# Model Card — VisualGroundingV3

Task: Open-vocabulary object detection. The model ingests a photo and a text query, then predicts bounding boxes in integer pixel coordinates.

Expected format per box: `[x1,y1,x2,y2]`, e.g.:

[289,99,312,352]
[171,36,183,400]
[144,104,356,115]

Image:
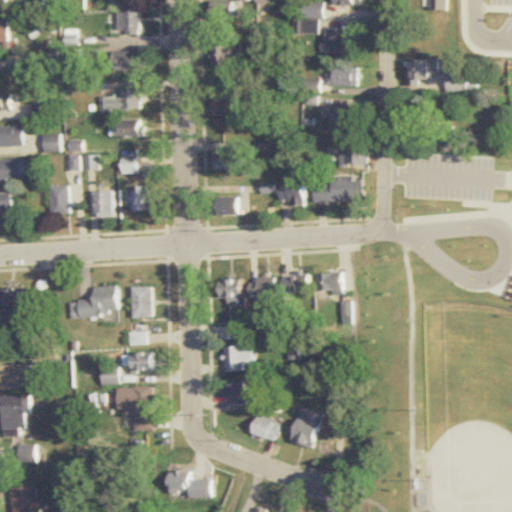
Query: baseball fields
[414,304,512,512]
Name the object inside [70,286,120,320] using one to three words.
house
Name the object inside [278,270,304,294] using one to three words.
house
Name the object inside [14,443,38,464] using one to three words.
building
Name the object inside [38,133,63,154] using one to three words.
building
